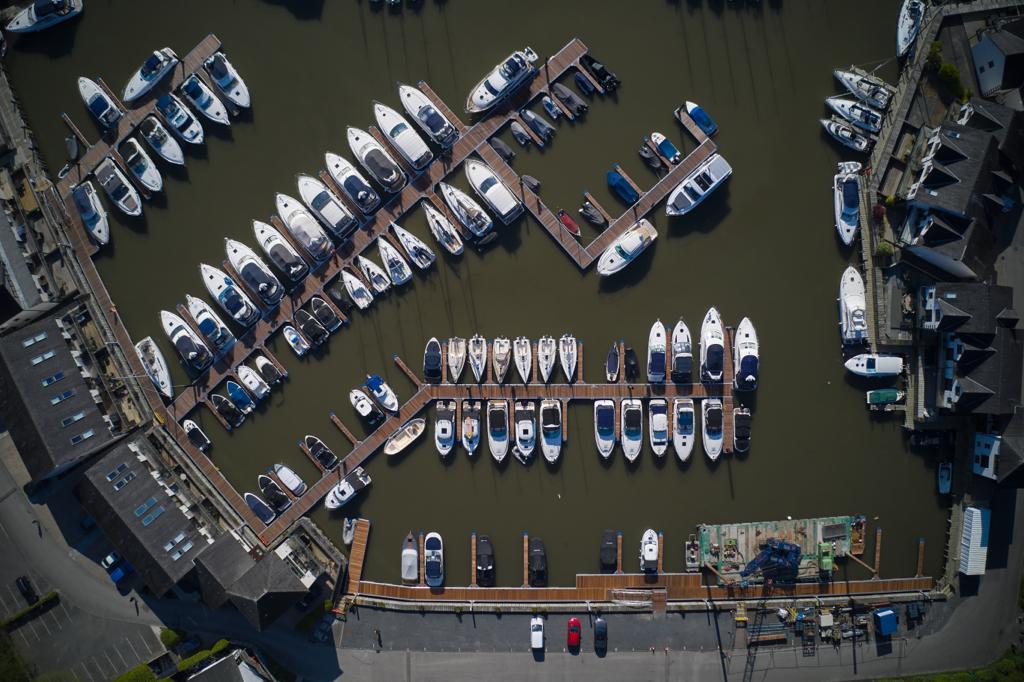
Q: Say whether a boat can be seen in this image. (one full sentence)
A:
Yes, you can see a boat in this photo.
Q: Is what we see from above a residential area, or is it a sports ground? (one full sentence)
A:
This looks like a residential area.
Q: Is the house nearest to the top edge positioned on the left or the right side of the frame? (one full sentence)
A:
It is on the right.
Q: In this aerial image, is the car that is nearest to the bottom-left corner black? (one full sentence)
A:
Yes, the car that is nearest to the bottom-left corner appears black.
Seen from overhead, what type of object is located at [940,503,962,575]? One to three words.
pier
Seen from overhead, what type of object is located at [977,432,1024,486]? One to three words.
house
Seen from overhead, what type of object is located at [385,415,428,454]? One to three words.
boat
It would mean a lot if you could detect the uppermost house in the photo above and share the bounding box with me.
[966,27,1024,99]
